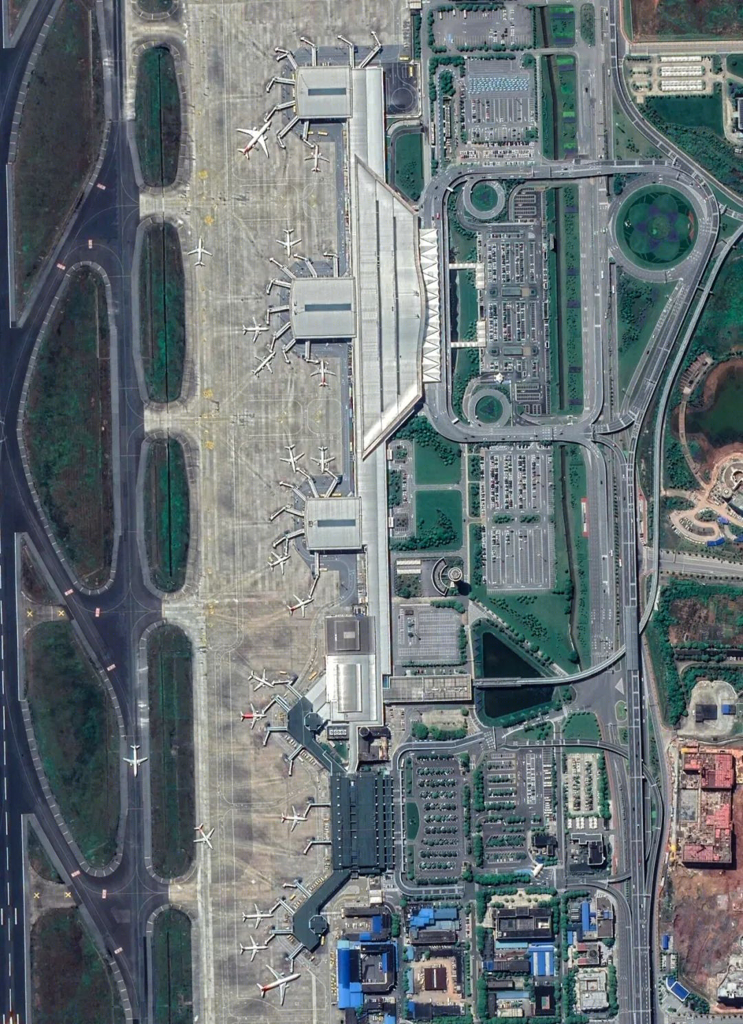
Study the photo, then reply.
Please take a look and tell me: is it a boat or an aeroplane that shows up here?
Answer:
aeroplane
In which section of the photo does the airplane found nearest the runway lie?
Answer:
bottom left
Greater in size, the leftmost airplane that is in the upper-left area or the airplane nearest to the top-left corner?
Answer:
the airplane nearest to the top-left corner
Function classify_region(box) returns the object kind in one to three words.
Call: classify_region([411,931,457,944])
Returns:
building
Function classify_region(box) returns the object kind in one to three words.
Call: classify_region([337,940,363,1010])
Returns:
hangar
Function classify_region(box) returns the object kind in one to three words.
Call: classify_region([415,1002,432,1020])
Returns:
building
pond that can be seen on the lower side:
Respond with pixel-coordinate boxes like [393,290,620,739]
[483,633,555,718]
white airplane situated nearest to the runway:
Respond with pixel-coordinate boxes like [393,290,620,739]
[122,745,147,776]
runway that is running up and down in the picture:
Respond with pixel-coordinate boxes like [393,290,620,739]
[0,0,26,1024]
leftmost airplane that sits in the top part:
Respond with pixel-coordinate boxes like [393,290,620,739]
[187,237,212,265]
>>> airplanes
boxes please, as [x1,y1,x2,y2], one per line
[242,904,273,929]
[241,704,266,729]
[280,445,304,471]
[236,122,270,160]
[267,551,290,571]
[281,806,307,831]
[249,671,273,692]
[310,446,335,472]
[240,936,268,962]
[122,745,147,776]
[304,144,329,171]
[310,360,335,386]
[276,229,301,256]
[251,351,275,376]
[255,966,301,1006]
[287,595,313,615]
[242,317,268,341]
[187,237,212,265]
[194,825,215,849]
